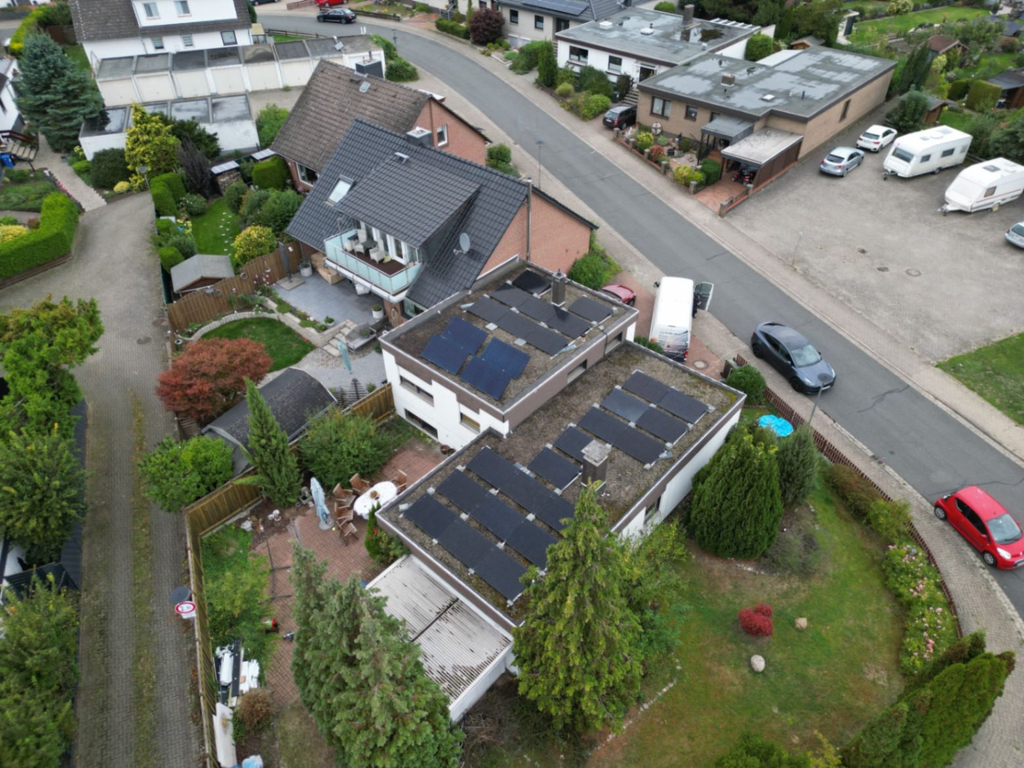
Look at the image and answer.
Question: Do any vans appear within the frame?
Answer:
Yes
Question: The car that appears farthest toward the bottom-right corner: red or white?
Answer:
red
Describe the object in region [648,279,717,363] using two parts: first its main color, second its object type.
white van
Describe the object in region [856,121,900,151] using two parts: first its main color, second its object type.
white car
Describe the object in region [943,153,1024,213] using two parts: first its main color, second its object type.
white camper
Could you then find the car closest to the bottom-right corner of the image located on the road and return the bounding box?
[935,488,1024,574]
